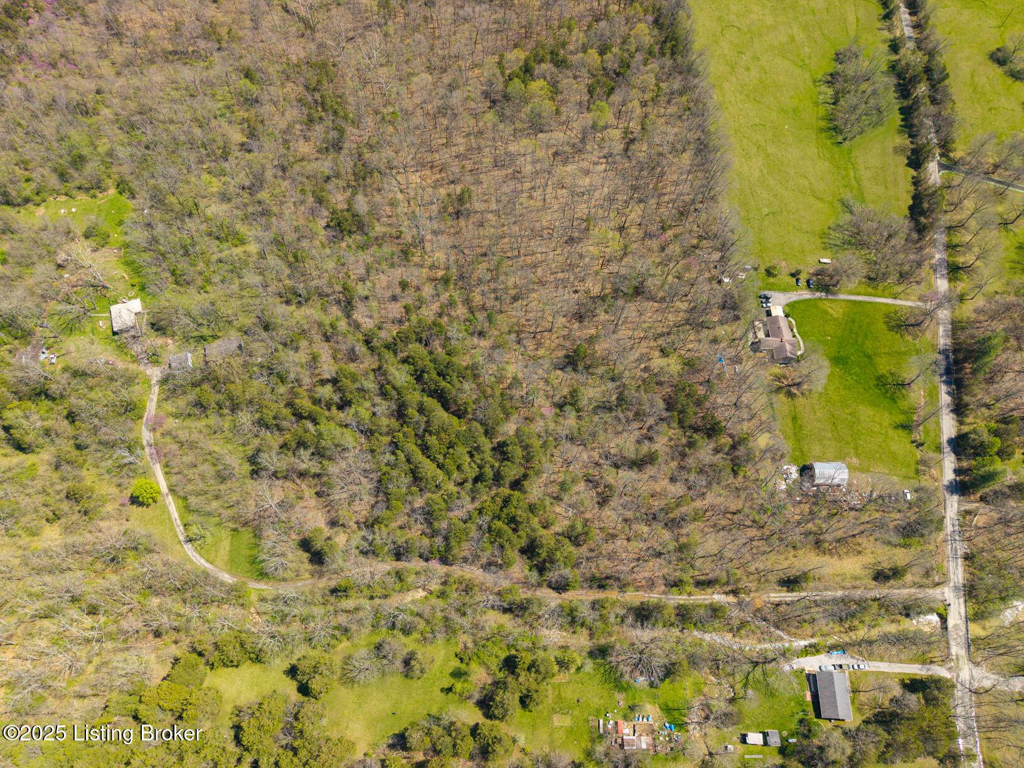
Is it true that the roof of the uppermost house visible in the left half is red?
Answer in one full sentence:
No, the color of the roof of the uppermost house visible in the left half is white.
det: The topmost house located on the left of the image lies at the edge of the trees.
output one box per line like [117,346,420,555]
[110,298,144,334]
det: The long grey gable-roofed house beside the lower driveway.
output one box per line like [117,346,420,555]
[814,671,853,721]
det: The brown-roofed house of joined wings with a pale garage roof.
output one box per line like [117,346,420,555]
[760,305,799,363]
